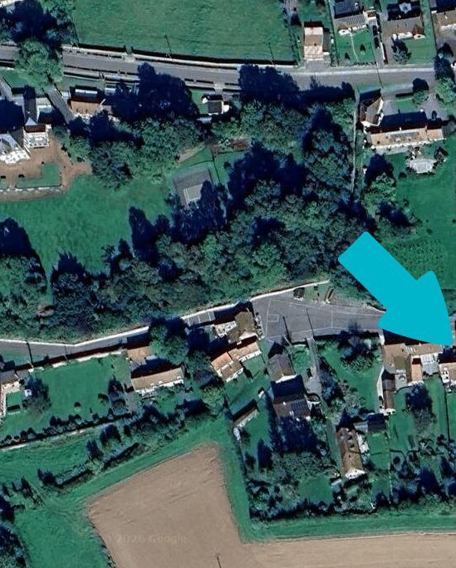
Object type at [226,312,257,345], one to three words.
house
